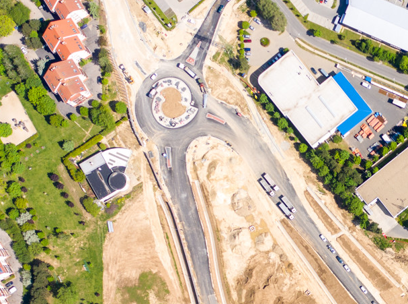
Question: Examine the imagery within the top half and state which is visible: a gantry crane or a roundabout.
roundabout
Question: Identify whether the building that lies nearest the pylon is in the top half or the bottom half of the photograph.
top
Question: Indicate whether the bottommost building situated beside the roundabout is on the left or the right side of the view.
left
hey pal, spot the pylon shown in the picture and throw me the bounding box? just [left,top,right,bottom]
[213,38,238,57]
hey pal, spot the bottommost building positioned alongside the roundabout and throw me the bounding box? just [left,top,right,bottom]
[79,148,135,205]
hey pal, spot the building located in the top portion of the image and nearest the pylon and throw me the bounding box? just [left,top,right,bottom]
[259,50,372,149]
